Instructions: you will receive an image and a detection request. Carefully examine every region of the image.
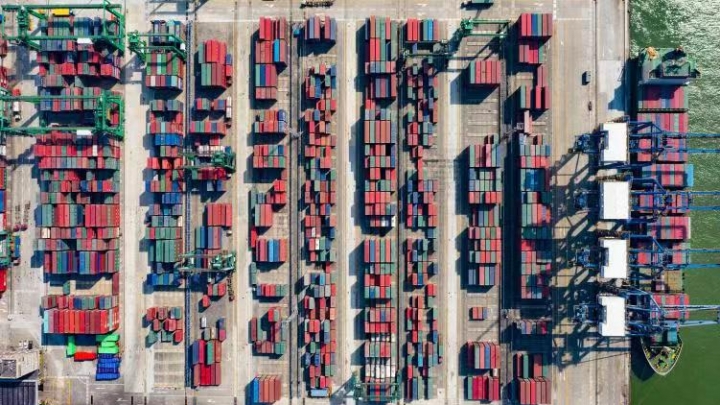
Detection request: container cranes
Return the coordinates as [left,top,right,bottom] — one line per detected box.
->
[569,226,720,283]
[183,248,238,271]
[456,19,509,51]
[0,95,133,141]
[400,39,451,69]
[351,368,400,400]
[0,3,133,57]
[569,118,720,174]
[183,153,238,173]
[125,33,187,62]
[569,278,720,338]
[569,174,720,226]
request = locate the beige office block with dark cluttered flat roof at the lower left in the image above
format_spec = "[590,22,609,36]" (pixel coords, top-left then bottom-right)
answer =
[0,347,39,380]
